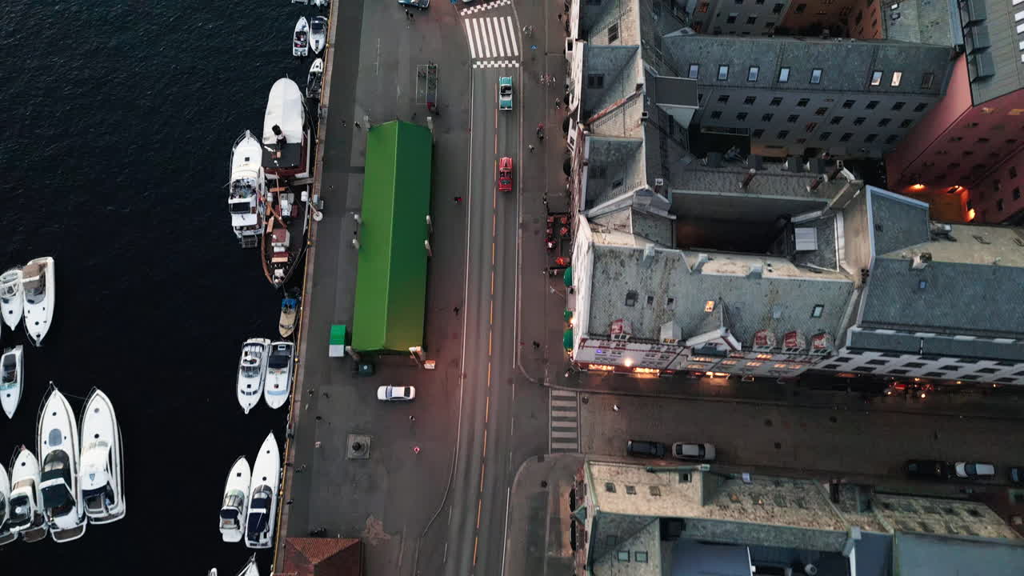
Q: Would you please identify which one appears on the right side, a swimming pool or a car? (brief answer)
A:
car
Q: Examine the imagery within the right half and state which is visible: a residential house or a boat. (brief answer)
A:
residential house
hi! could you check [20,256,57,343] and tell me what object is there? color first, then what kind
white boat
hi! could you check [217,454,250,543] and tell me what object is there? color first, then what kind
white boat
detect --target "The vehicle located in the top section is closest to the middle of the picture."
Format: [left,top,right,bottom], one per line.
[498,156,513,194]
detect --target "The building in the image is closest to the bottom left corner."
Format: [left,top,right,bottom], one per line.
[283,536,364,576]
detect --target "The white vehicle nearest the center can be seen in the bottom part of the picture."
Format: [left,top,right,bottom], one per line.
[377,384,416,400]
